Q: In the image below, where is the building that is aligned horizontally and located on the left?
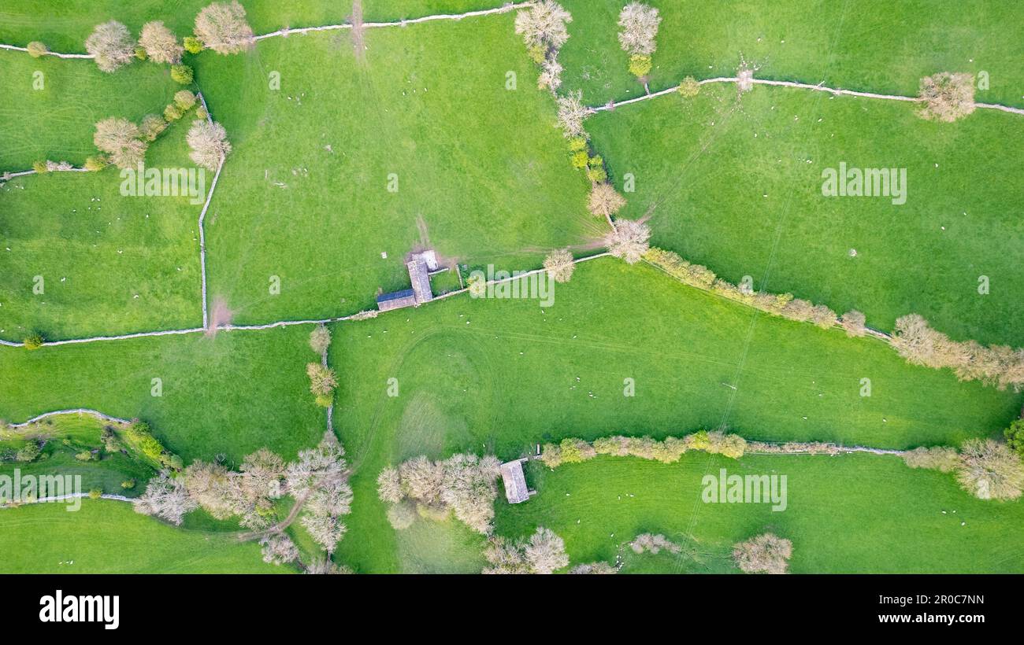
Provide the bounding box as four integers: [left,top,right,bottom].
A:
[377,289,415,311]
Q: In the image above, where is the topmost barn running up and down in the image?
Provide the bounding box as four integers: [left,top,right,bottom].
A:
[408,260,434,303]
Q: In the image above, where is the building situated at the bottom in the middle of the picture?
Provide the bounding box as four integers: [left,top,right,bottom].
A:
[499,459,529,503]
